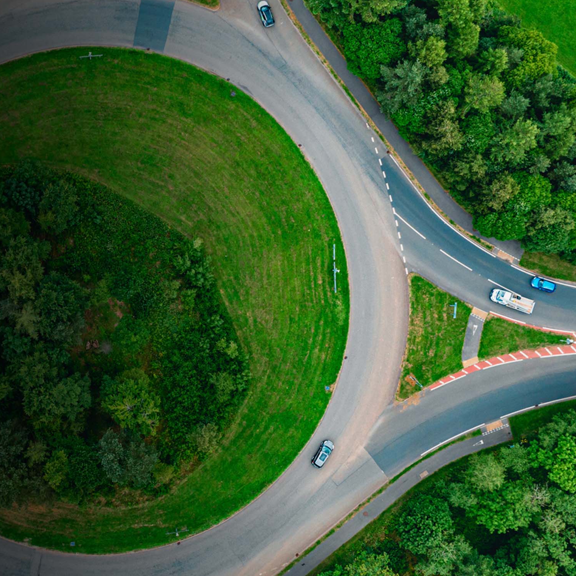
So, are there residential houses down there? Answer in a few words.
No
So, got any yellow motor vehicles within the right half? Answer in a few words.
No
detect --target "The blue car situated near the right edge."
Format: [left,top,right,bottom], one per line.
[530,276,557,293]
